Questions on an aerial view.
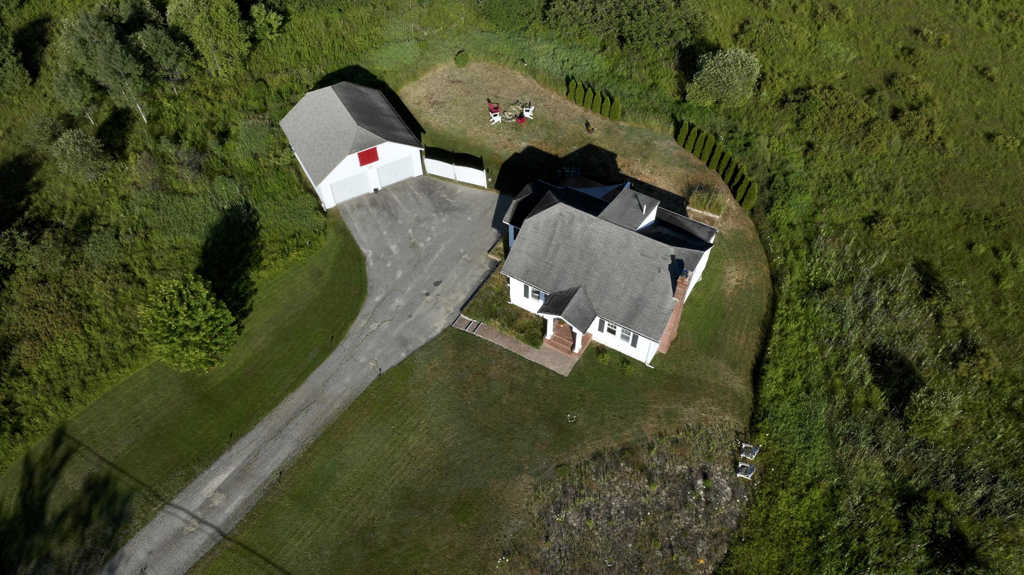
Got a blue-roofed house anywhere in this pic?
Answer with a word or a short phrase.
No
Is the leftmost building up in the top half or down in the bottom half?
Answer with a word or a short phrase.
top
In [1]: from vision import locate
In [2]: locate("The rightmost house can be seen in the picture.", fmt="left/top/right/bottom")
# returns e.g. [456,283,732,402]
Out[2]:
[499,180,719,371]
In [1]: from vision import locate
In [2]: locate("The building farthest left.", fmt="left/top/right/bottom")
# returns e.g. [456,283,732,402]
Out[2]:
[277,81,425,211]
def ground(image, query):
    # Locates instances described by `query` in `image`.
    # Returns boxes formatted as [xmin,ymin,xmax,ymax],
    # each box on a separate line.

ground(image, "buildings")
[499,180,719,371]
[277,81,425,211]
